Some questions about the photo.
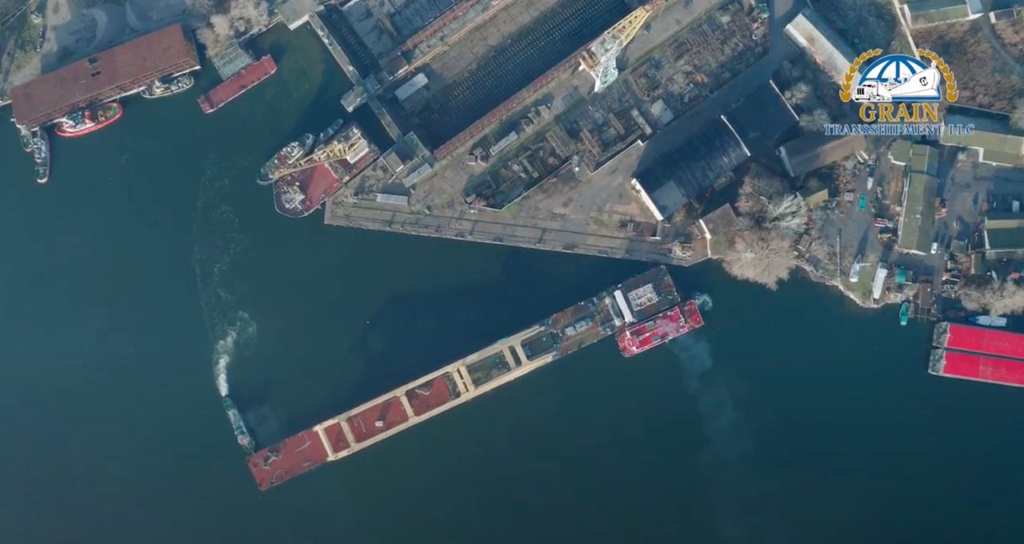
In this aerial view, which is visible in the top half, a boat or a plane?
boat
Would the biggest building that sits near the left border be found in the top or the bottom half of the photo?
top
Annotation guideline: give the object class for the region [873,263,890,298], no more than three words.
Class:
boat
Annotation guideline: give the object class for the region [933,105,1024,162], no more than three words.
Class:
building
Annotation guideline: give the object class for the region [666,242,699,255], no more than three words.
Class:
vehicle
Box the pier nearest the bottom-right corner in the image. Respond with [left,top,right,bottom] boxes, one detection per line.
[910,282,941,323]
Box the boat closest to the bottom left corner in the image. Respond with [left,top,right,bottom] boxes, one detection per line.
[221,395,257,454]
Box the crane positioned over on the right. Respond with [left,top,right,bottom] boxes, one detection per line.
[577,5,653,95]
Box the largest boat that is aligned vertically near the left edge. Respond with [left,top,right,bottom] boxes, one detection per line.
[27,127,53,183]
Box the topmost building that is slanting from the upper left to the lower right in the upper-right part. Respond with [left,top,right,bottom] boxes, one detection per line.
[779,14,859,92]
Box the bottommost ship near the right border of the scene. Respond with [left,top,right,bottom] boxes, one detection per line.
[924,349,1024,387]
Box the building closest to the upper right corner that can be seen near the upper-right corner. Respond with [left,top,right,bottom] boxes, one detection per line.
[985,6,1019,23]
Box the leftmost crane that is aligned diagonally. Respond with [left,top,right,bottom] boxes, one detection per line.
[271,122,381,218]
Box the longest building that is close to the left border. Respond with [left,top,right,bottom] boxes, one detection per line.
[11,23,203,134]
